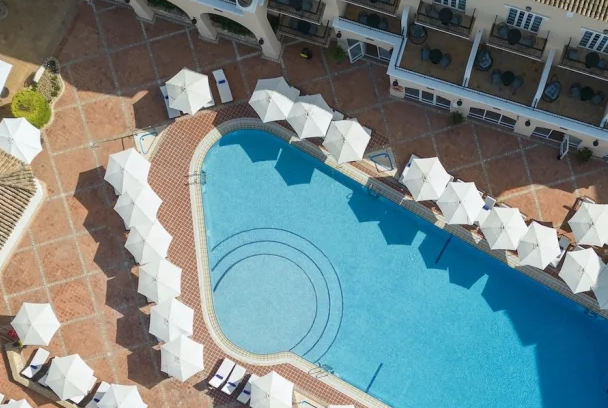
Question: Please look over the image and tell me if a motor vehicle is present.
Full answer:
No, no motor vehicle can be seen from above.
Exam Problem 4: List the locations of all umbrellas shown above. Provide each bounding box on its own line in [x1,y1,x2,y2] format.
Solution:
[125,220,172,266]
[99,384,147,408]
[403,157,451,200]
[47,355,94,400]
[480,207,527,250]
[559,249,607,293]
[167,68,212,115]
[251,371,294,408]
[138,258,182,303]
[250,75,297,119]
[151,295,195,342]
[518,222,562,269]
[115,184,162,229]
[0,114,42,161]
[591,269,608,310]
[569,203,608,247]
[437,183,485,225]
[160,335,203,382]
[286,94,333,138]
[324,119,371,163]
[12,303,60,345]
[104,148,150,194]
